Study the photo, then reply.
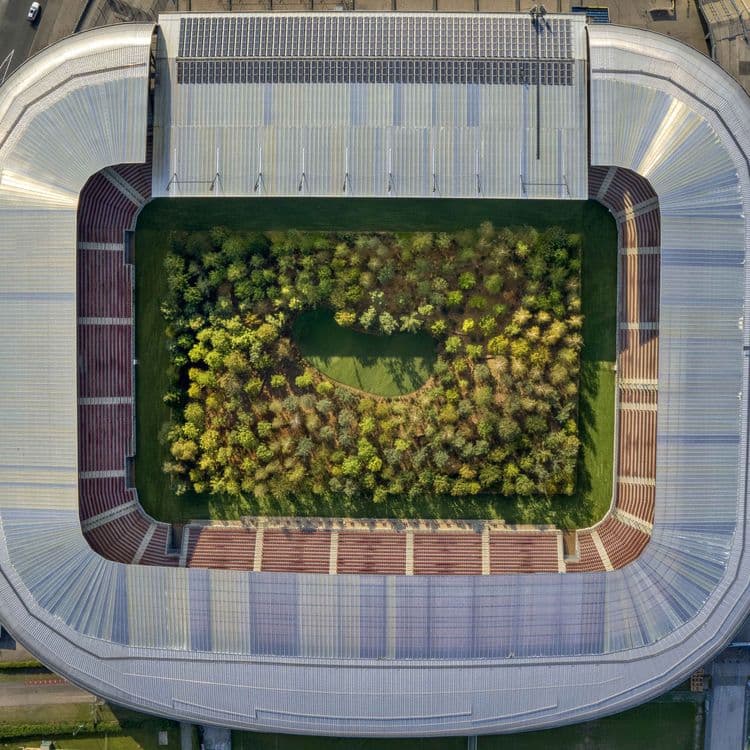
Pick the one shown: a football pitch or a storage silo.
football pitch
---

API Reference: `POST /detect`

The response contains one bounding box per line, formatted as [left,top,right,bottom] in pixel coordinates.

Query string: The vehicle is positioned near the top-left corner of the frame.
[26,1,39,21]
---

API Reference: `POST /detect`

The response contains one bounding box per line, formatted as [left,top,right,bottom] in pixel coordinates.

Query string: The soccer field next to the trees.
[135,195,616,520]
